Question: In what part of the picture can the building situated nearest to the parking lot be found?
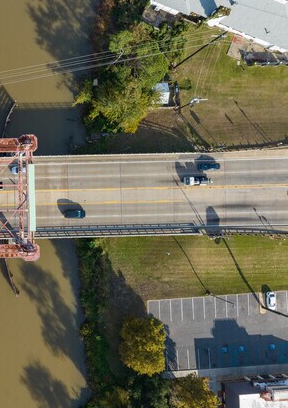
bottom right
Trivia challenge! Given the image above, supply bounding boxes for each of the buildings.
[143,0,288,56]
[222,366,288,408]
[145,84,166,100]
